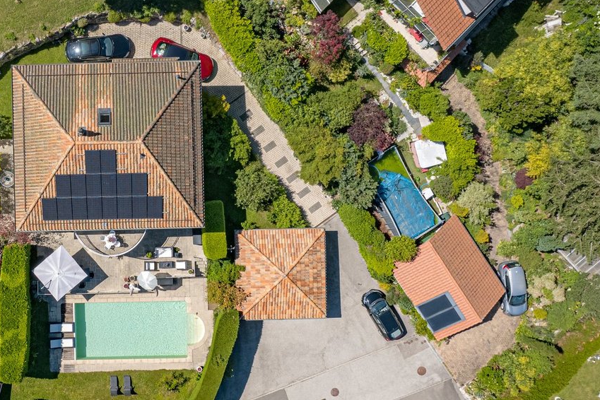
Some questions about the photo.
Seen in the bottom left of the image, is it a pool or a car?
pool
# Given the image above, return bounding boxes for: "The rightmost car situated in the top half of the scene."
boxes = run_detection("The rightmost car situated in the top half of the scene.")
[150,38,214,78]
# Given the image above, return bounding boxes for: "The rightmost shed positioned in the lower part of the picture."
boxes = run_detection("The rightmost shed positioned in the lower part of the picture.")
[387,217,506,340]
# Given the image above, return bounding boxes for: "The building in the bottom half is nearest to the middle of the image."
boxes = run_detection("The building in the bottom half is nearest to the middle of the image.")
[234,228,329,322]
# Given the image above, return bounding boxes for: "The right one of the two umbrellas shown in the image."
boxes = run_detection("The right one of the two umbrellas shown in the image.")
[138,270,157,288]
